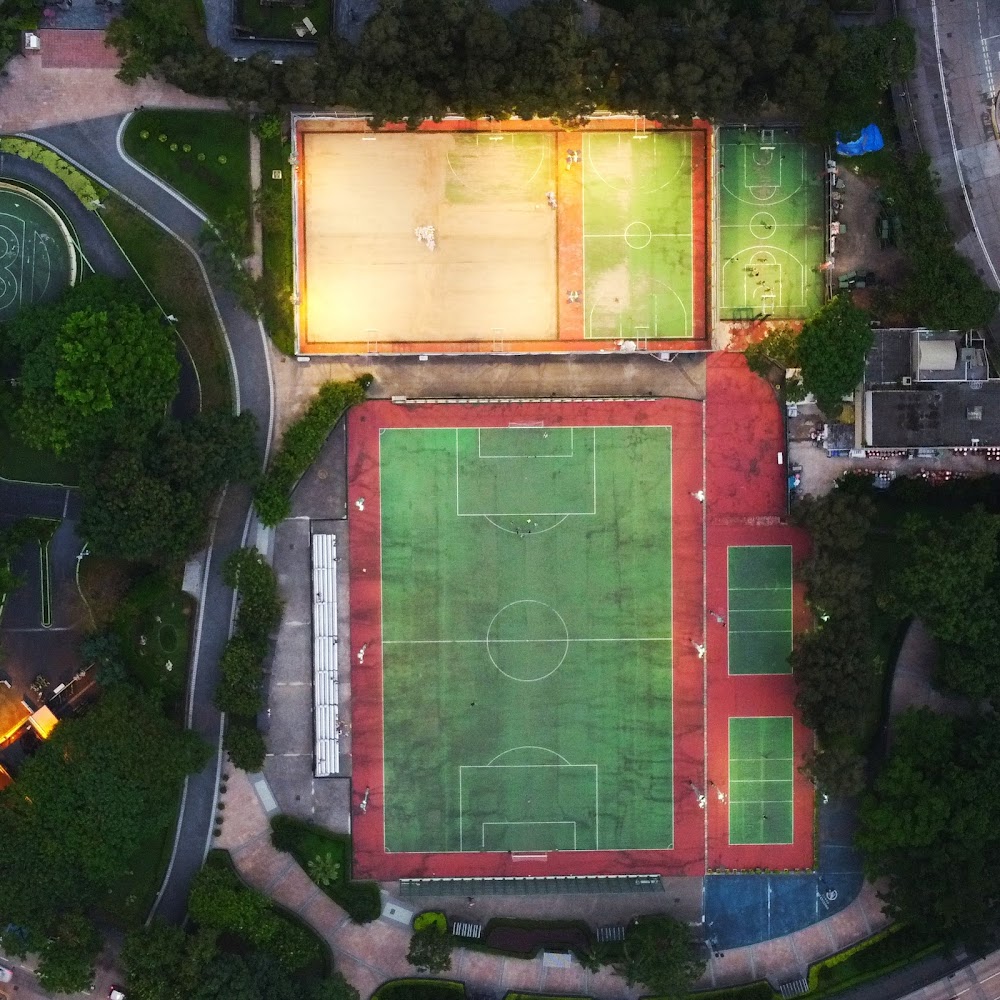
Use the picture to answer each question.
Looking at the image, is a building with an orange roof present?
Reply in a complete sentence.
Yes, the frame does contain a building with an orange roof.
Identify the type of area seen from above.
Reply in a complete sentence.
It's a sports ground.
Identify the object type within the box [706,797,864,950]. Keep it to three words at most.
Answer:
sports court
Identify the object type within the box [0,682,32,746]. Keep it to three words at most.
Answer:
house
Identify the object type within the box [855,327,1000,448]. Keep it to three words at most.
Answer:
building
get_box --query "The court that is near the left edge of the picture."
[0,180,79,338]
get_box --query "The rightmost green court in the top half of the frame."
[719,128,826,320]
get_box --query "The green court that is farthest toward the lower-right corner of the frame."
[729,716,794,846]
